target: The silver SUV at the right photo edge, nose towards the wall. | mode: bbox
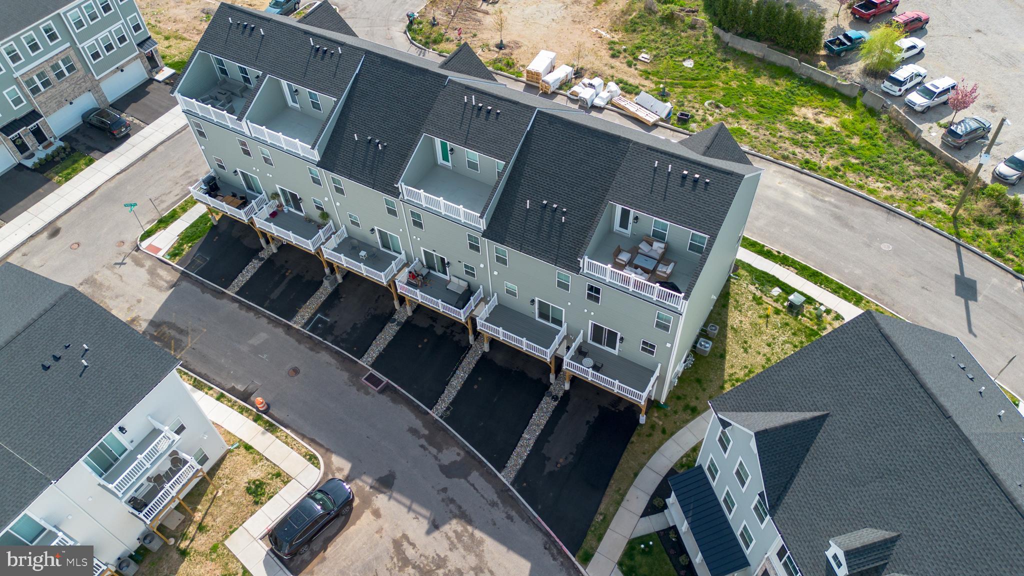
[993,146,1024,182]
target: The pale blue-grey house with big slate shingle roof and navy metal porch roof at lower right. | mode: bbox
[660,310,1024,576]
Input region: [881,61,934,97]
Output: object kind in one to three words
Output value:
car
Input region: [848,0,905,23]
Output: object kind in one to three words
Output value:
truck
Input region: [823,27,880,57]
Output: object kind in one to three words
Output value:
truck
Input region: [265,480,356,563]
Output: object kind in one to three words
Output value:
car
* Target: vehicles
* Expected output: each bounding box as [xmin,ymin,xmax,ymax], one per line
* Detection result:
[901,74,961,115]
[940,114,998,150]
[265,480,356,563]
[882,34,930,63]
[823,27,880,57]
[848,0,905,23]
[883,7,936,35]
[993,146,1024,182]
[81,105,131,137]
[881,61,934,97]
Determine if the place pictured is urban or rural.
urban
